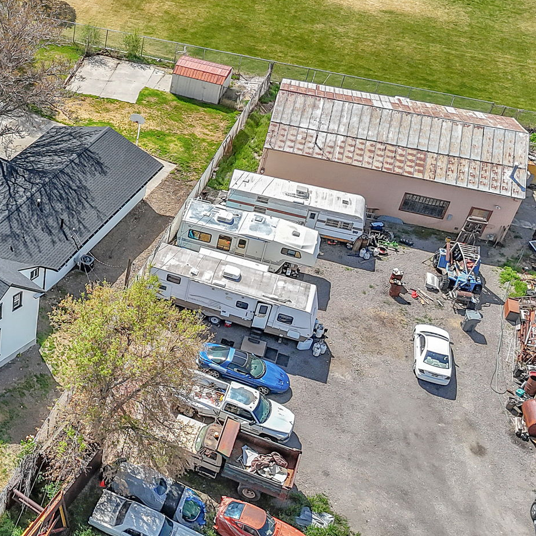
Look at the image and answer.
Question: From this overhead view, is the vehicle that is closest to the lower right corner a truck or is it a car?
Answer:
car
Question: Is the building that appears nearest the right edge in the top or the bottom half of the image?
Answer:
top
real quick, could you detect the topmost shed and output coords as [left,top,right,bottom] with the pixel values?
[170,54,233,104]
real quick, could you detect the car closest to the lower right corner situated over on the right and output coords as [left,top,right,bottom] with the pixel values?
[411,321,459,390]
